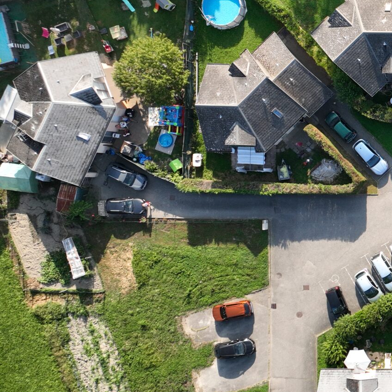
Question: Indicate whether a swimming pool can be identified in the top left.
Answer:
Yes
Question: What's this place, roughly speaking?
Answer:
residential area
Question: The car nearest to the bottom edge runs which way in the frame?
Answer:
from left to right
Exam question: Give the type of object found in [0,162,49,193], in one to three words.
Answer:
tent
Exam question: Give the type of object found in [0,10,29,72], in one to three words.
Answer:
swimming pool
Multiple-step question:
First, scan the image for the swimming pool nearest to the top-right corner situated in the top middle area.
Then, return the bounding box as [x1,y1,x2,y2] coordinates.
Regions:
[201,0,250,30]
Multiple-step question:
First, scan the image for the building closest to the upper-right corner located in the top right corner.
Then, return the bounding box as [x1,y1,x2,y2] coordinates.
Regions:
[310,0,392,98]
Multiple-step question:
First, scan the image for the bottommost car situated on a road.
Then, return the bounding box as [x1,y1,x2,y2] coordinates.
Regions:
[214,338,257,360]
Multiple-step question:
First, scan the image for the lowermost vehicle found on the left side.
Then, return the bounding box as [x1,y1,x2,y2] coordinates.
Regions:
[105,197,148,217]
